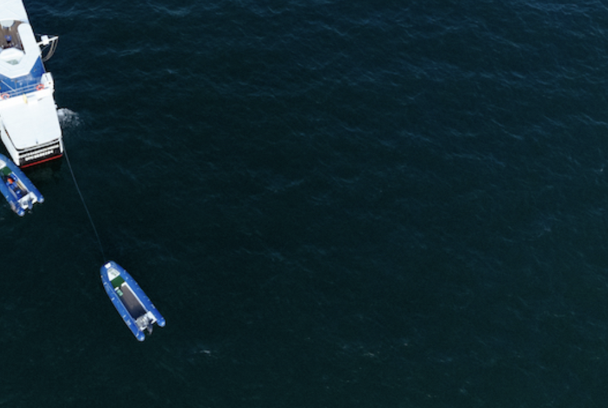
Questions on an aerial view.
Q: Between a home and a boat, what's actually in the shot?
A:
boat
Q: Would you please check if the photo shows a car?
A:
No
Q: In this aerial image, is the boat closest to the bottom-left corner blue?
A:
Yes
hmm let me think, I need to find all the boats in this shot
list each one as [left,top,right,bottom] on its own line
[0,154,44,216]
[0,0,66,168]
[99,260,163,340]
